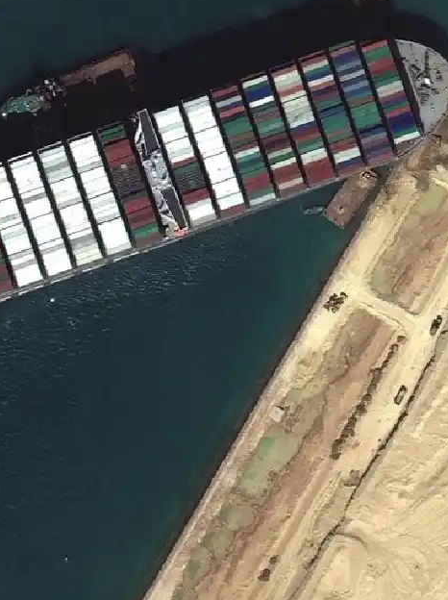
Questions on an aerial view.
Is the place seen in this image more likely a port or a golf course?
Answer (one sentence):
It's a port.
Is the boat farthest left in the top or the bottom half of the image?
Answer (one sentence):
Seen from above, the boat farthest left lies in the top half of the view.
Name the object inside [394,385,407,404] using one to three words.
vehicle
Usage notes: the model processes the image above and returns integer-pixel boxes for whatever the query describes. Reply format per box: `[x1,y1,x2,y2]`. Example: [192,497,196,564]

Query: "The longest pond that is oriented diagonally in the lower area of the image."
[242,428,296,492]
